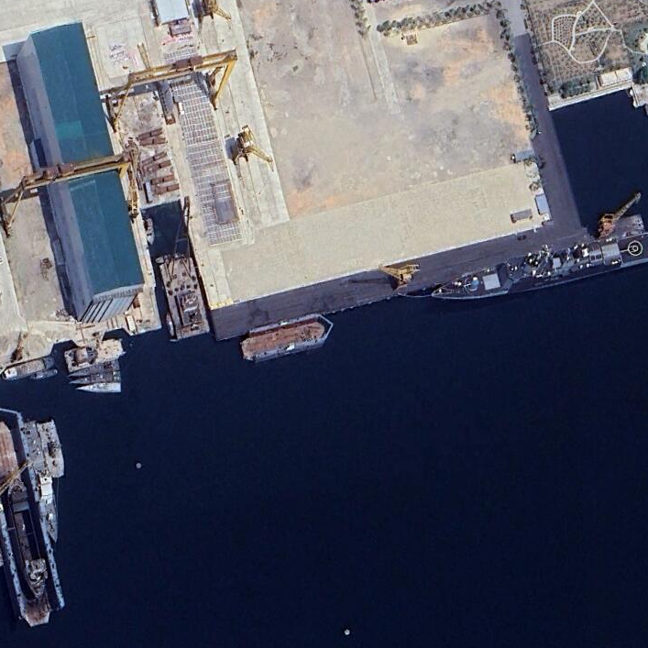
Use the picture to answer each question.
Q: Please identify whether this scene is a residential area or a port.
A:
port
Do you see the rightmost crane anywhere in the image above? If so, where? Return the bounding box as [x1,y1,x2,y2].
[591,193,641,246]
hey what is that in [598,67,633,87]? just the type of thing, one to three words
building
